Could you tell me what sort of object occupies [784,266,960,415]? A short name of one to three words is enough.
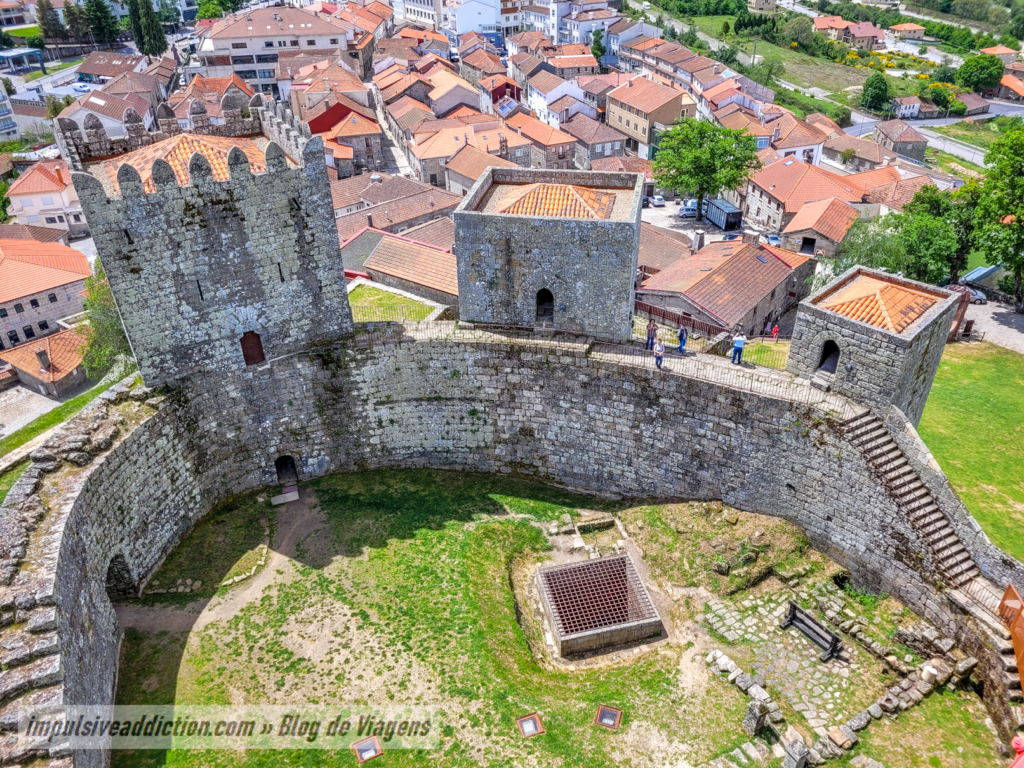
building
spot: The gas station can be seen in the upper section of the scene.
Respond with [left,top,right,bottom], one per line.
[0,48,54,78]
